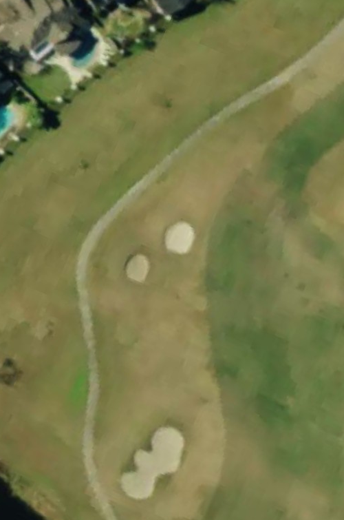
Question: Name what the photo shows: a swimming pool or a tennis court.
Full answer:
The image shows a swimming pool.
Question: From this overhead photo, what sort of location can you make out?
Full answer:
It's a golf course.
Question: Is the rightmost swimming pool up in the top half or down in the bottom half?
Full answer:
You can find the rightmost swimming pool in the top half.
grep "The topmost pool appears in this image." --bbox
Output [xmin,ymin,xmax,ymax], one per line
[69,16,102,68]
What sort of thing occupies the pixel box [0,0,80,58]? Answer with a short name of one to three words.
house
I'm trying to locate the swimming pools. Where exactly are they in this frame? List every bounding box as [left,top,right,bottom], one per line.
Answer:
[0,103,17,138]
[69,16,102,68]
